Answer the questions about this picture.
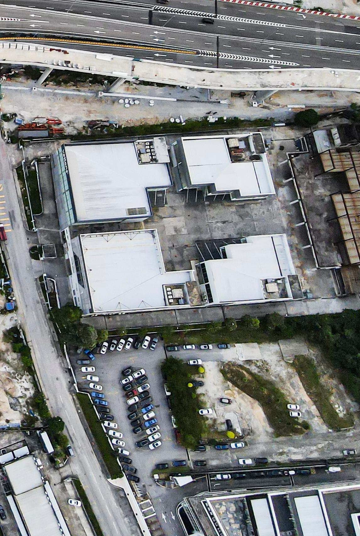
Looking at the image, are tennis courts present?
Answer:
No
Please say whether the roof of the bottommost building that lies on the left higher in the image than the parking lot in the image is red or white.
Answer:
white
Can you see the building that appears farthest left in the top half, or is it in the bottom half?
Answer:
bottom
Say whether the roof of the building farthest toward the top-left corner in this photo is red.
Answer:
No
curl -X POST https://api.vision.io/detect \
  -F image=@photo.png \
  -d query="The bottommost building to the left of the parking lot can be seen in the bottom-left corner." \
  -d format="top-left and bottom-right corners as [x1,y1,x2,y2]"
[0,455,71,536]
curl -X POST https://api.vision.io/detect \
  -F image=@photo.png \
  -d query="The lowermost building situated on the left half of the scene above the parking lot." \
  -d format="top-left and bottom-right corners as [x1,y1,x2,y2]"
[73,229,201,314]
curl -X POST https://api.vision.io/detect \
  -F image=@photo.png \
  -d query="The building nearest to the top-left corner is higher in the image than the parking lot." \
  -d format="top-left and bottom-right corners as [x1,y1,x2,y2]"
[54,138,172,230]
